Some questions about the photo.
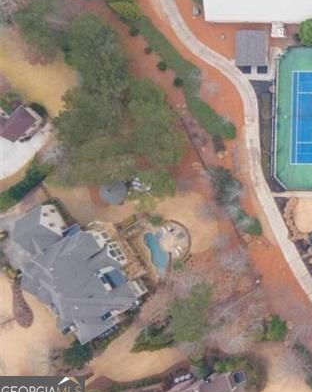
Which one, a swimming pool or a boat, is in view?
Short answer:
swimming pool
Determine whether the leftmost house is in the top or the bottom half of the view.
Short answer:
top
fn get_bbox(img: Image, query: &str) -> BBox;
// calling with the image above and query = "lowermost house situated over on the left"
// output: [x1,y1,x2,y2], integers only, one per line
[11,207,168,342]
